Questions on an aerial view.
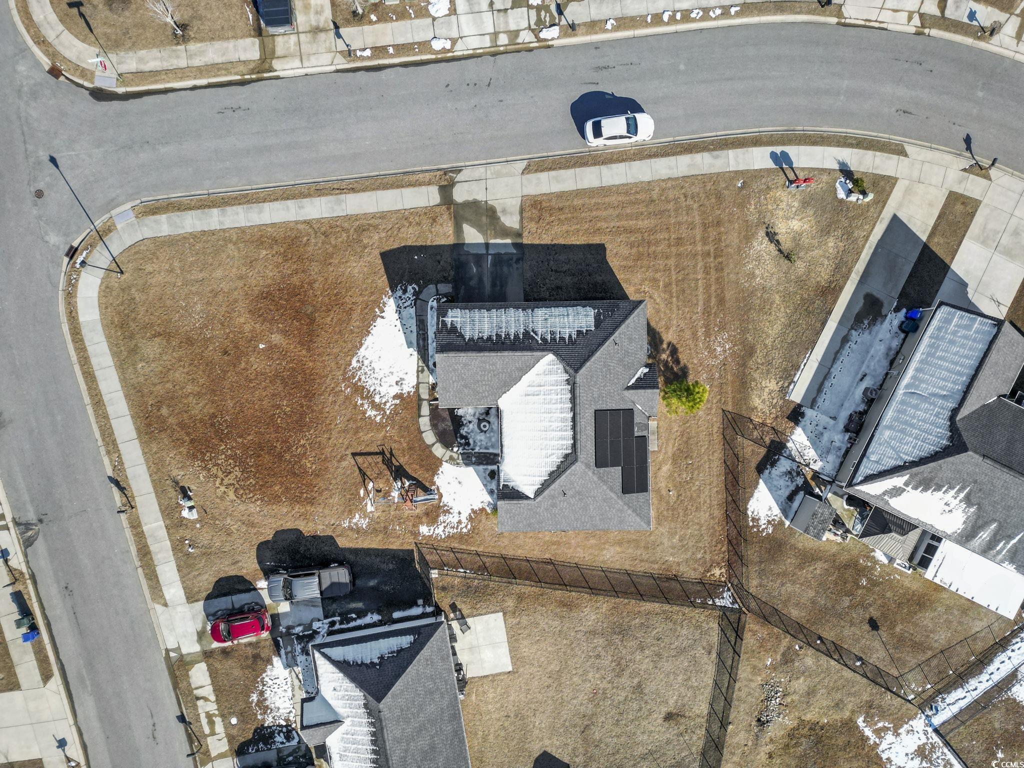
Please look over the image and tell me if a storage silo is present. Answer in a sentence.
No, there isn't any storage silo down there.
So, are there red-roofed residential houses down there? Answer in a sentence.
No, there isn't any red-roofed residential house down there.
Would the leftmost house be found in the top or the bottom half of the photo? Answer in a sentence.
You can find the leftmost house in the bottom half.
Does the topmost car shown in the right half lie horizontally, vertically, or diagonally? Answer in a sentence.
Seen from above, the topmost car shown in the right half lies horizontally.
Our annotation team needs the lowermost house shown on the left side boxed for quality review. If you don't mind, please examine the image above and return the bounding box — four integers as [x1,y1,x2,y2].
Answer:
[300,613,472,768]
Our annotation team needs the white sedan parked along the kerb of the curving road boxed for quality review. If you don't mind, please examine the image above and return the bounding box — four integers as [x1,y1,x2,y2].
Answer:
[584,110,653,149]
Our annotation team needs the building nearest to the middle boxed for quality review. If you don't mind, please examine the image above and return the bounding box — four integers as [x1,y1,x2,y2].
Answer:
[434,299,661,533]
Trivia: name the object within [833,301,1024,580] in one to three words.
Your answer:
house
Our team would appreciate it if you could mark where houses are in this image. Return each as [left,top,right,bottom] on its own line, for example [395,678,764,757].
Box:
[833,301,1024,580]
[300,613,472,768]
[434,299,661,533]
